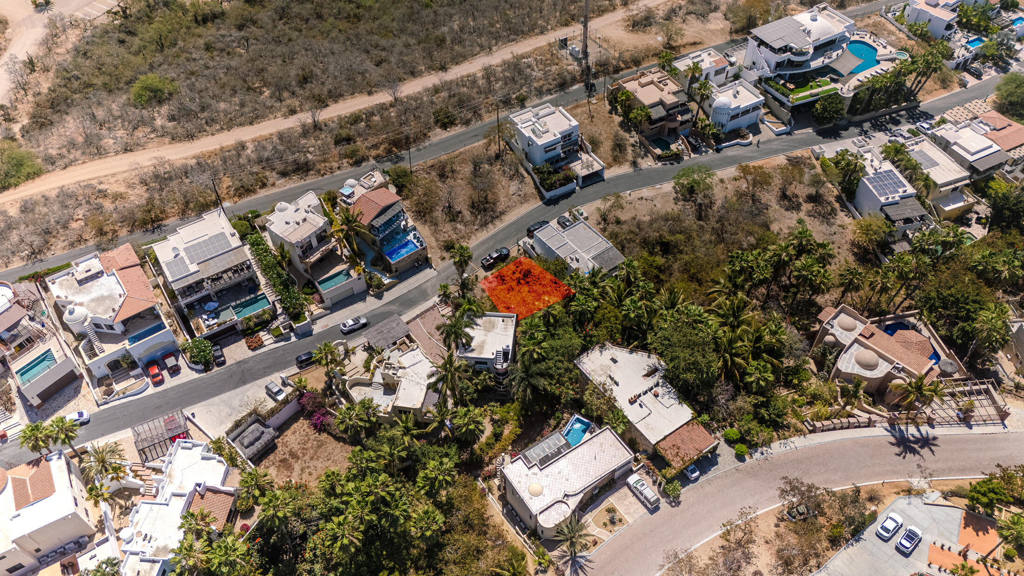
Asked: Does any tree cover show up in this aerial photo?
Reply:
Yes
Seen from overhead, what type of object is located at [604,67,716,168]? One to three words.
house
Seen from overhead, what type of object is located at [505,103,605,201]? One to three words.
house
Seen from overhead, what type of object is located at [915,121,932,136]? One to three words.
car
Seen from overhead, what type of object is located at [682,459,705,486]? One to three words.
car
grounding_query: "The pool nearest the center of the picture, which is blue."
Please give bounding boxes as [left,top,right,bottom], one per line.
[383,239,420,262]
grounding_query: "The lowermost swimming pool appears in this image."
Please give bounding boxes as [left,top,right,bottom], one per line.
[561,413,593,448]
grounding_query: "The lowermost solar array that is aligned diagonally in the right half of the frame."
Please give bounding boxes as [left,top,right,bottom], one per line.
[910,149,939,169]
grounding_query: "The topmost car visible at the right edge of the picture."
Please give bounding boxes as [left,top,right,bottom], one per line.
[962,65,984,79]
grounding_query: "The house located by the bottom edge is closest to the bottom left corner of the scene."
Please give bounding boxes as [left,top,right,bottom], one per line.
[0,449,126,576]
